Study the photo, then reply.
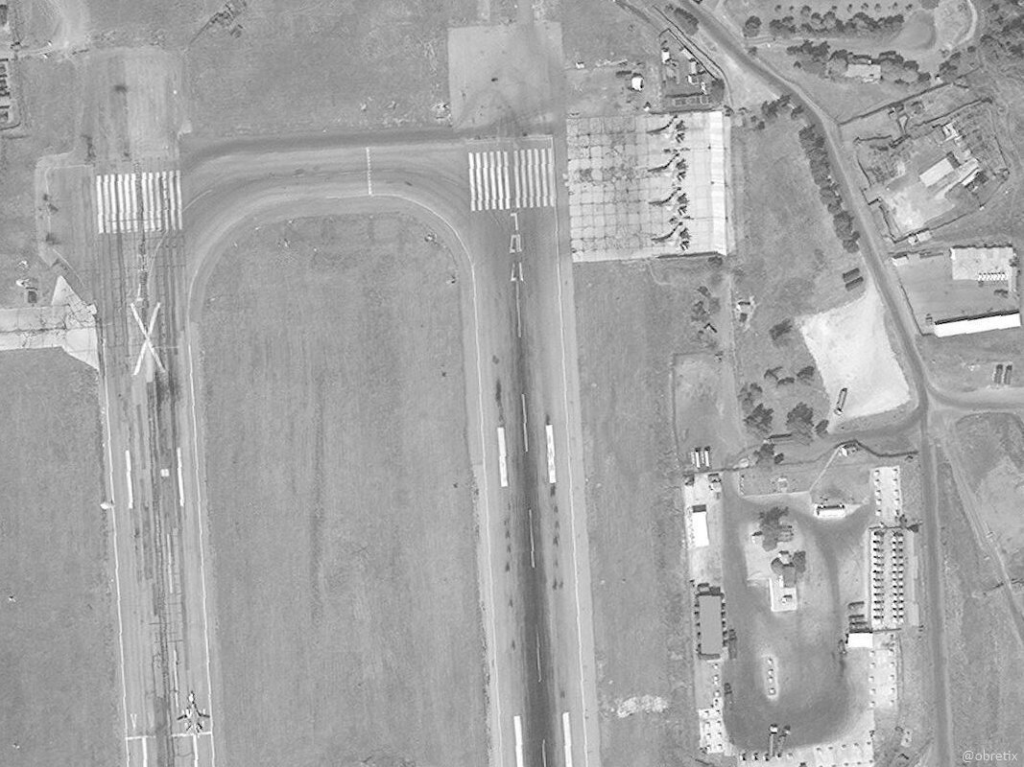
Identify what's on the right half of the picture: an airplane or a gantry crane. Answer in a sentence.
The feature located on the right half of the picture is an airplane.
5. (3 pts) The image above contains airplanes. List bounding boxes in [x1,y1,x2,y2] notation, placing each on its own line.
[180,696,211,735]
[651,191,690,220]
[649,158,690,187]
[652,227,693,256]
[647,120,689,149]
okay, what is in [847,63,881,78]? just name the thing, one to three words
house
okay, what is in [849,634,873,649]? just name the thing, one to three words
building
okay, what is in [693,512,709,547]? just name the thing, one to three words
building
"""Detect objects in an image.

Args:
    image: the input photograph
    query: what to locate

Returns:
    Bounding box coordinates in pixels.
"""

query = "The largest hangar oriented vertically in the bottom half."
[696,596,724,655]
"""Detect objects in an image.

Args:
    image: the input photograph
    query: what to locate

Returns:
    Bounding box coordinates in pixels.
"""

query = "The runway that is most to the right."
[461,128,601,767]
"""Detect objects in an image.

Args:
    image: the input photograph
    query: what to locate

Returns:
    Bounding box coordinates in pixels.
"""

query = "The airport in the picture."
[0,22,727,767]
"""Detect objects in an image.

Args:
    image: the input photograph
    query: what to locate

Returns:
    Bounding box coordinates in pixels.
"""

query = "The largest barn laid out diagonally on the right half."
[921,158,954,186]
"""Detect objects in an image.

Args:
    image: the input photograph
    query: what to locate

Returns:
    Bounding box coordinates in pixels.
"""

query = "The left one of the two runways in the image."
[88,164,225,767]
